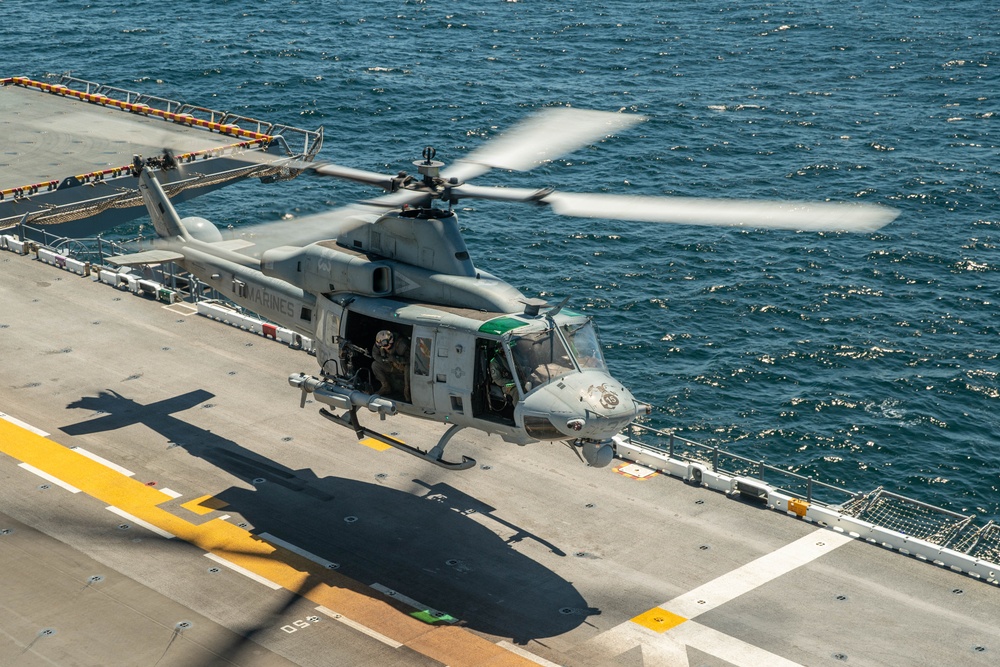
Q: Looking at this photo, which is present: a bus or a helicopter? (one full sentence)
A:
Of the two, only a helicopter appears.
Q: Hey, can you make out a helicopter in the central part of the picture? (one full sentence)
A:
Yes, a helicopter is visible in the central part of the picture.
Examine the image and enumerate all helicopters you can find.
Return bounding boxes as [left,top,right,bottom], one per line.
[42,107,893,473]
